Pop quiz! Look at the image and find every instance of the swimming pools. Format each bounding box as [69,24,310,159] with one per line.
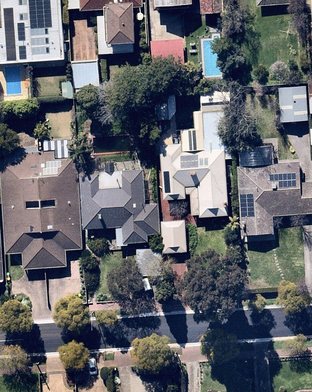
[92,133,133,155]
[3,64,23,96]
[202,34,224,77]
